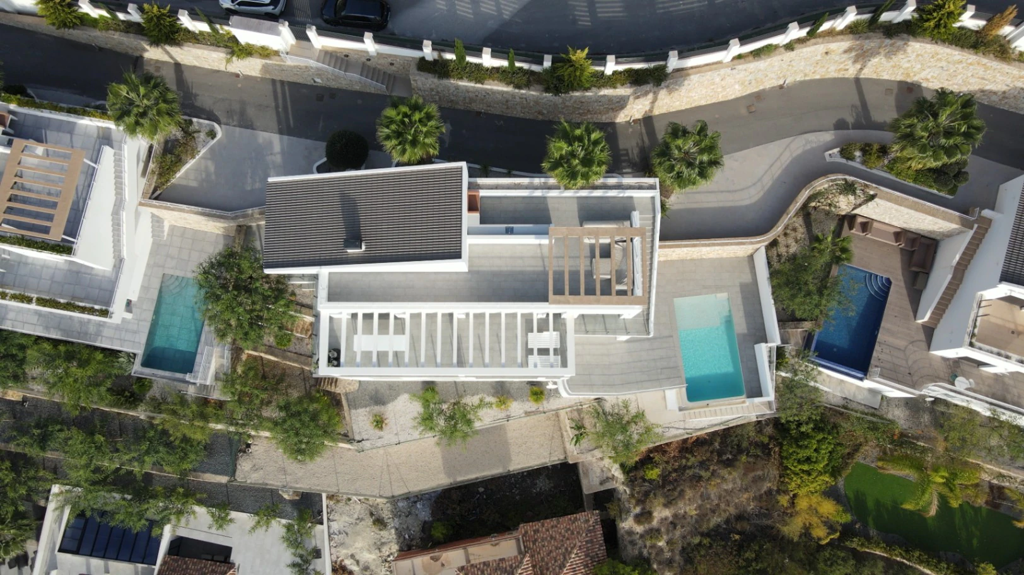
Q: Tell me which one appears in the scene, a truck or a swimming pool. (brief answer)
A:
swimming pool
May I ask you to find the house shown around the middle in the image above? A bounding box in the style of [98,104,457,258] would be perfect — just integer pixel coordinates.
[264,161,661,381]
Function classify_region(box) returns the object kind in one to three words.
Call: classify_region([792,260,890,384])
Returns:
swimming pool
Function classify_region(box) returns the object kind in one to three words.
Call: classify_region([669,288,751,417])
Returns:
swimming pool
